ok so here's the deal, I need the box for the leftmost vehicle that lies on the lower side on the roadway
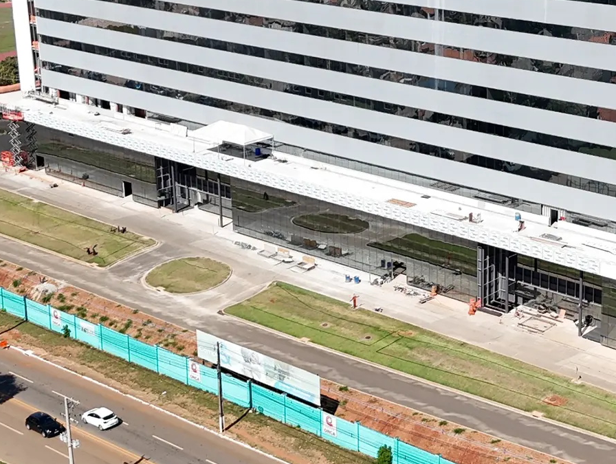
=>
[26,407,66,437]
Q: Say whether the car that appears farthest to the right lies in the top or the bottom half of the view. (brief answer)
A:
bottom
